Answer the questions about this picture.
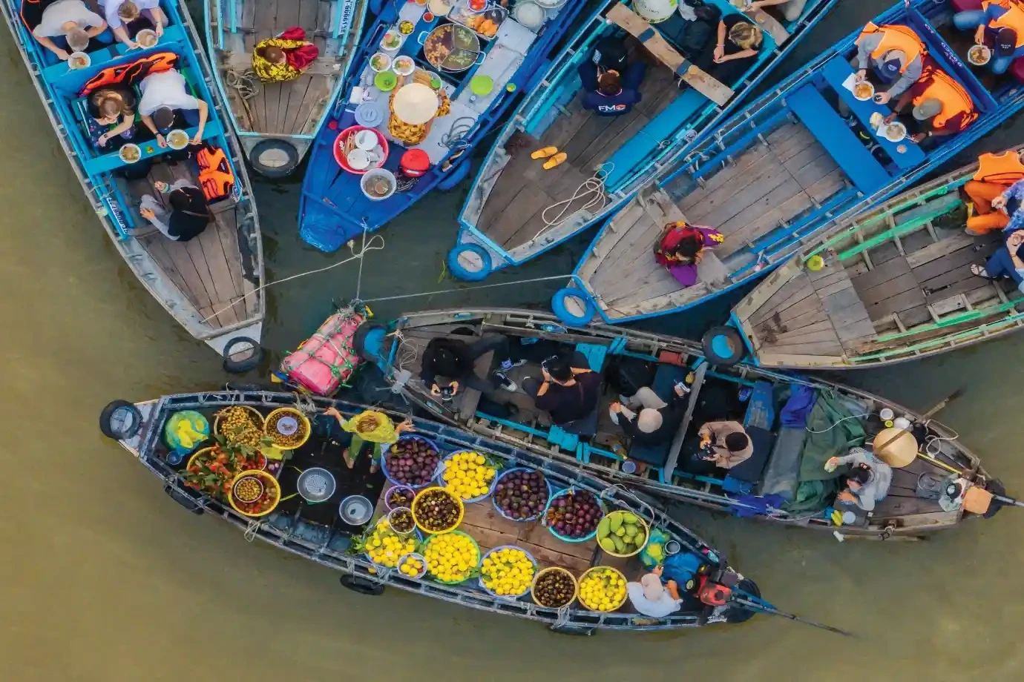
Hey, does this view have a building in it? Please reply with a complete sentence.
No, there isn't any building down there.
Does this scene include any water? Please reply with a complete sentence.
Yes, some water is visible.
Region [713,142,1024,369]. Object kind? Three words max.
boat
